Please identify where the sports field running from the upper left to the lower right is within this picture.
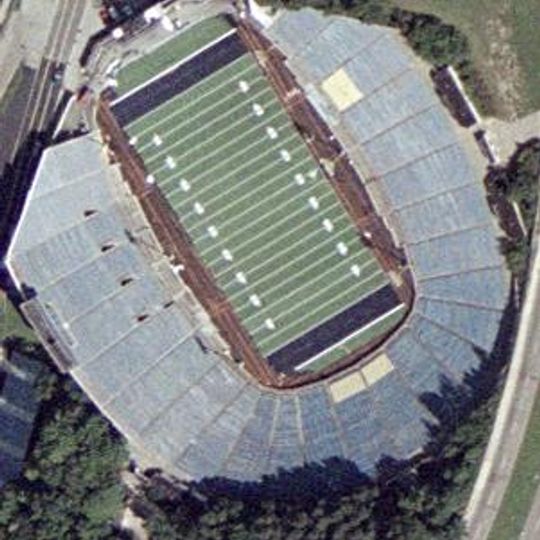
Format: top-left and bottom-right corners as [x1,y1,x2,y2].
[108,16,406,379]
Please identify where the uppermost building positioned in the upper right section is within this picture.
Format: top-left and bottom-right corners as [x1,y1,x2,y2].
[432,64,476,126]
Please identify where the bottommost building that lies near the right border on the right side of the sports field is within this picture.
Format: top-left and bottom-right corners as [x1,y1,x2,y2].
[491,198,525,238]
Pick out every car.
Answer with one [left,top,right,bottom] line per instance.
[53,69,62,82]
[99,11,106,23]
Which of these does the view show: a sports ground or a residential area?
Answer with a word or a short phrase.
sports ground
